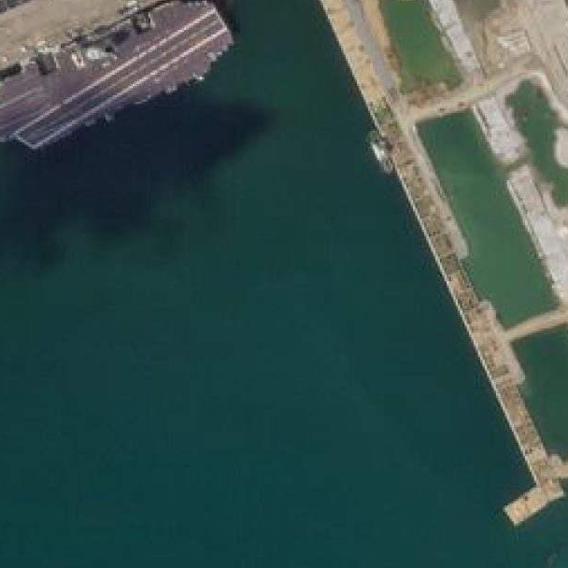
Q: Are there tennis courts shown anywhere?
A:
No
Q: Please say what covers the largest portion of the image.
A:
water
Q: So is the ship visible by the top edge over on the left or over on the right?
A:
left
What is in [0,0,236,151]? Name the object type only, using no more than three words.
ship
